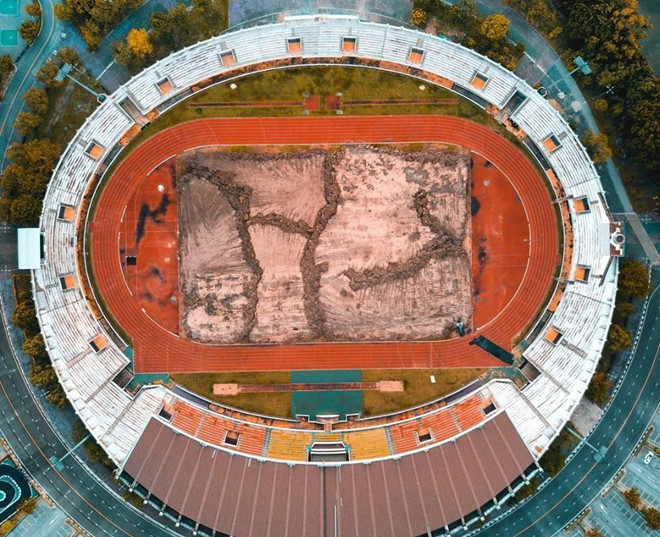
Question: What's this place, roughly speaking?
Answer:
sports ground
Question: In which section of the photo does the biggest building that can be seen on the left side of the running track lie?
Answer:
left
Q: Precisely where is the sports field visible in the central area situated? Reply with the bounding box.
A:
[179,148,471,342]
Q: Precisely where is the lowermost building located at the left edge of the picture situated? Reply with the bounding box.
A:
[18,228,48,269]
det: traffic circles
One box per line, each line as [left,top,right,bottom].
[0,454,37,524]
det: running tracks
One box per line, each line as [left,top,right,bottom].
[90,117,560,373]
